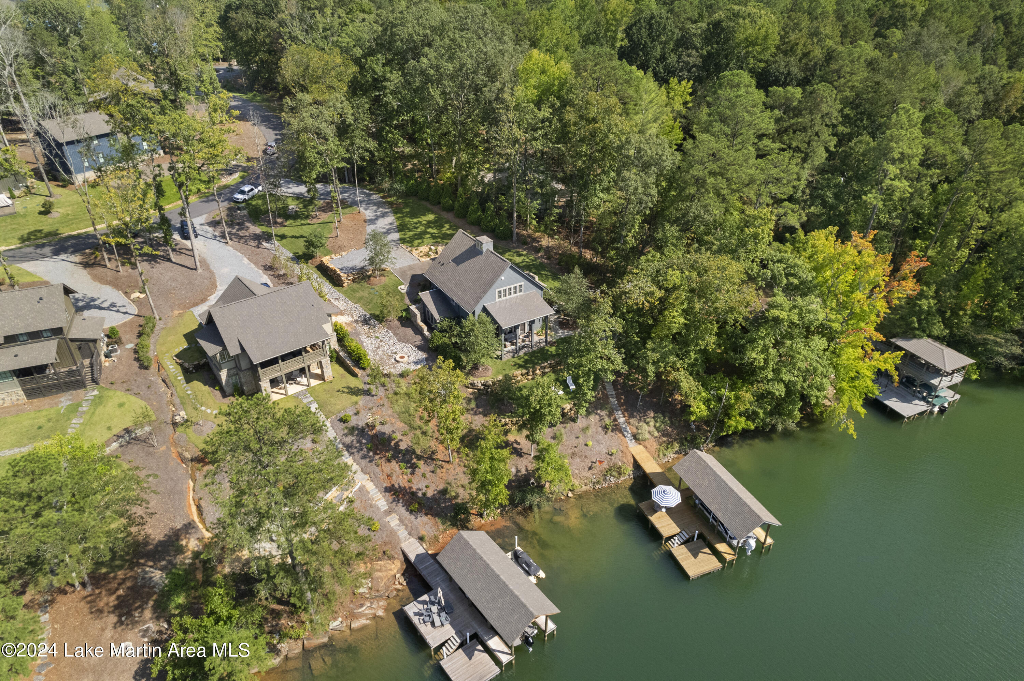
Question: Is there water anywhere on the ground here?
Yes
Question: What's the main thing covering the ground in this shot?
trees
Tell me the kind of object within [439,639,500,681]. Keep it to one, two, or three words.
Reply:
pier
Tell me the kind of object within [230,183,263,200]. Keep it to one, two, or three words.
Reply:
vehicle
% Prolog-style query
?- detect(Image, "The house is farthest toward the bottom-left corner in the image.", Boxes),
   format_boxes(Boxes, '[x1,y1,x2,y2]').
[0,282,111,406]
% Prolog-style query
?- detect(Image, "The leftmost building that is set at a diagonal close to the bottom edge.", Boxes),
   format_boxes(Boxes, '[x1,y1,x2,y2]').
[436,531,561,660]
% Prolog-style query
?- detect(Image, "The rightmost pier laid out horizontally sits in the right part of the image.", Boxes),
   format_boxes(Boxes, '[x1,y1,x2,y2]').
[868,372,962,423]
